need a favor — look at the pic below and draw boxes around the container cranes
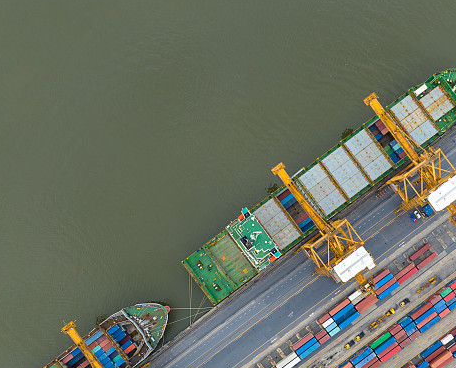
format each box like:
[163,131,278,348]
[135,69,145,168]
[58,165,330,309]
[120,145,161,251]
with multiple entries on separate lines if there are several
[56,316,108,368]
[268,159,379,302]
[364,88,456,230]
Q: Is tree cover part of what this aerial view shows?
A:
No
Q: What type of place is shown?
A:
port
